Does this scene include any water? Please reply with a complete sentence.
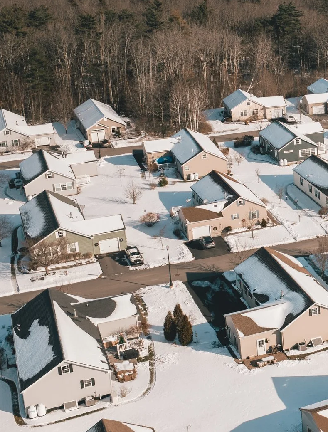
No, water can't be seen anywhere here.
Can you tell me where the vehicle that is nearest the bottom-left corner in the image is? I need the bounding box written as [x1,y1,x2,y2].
[124,247,143,264]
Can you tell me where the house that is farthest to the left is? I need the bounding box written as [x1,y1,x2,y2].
[0,109,55,153]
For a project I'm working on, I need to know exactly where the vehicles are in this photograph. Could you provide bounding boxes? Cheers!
[78,137,91,146]
[197,234,215,249]
[284,111,294,121]
[99,137,112,147]
[124,247,143,264]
